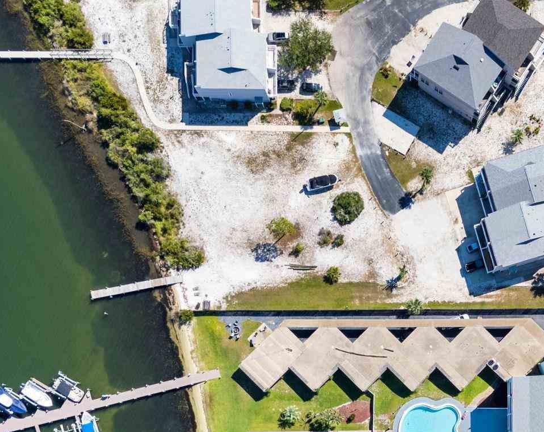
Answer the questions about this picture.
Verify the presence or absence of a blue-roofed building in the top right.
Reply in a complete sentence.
No, no blue-roofed building is visible in the top right.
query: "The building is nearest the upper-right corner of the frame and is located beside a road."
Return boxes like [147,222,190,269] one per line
[412,0,544,132]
